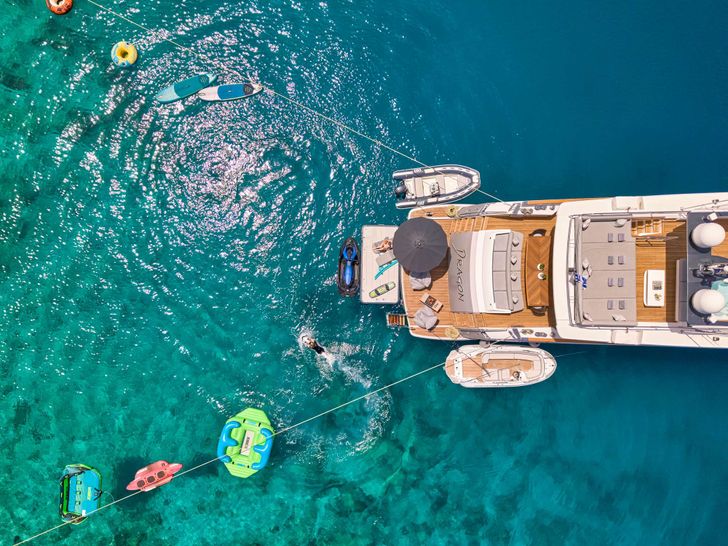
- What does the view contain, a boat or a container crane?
boat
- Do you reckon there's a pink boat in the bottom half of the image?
Yes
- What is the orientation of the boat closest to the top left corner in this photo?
up and down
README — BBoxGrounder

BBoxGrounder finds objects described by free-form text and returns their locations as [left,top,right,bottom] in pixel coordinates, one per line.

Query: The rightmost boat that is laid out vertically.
[337,237,359,296]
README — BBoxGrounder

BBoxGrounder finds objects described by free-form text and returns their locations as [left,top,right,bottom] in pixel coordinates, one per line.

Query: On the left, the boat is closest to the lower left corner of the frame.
[124,460,181,493]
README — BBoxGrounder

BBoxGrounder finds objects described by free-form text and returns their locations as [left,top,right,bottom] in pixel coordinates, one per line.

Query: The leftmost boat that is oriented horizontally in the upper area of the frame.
[384,166,481,210]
